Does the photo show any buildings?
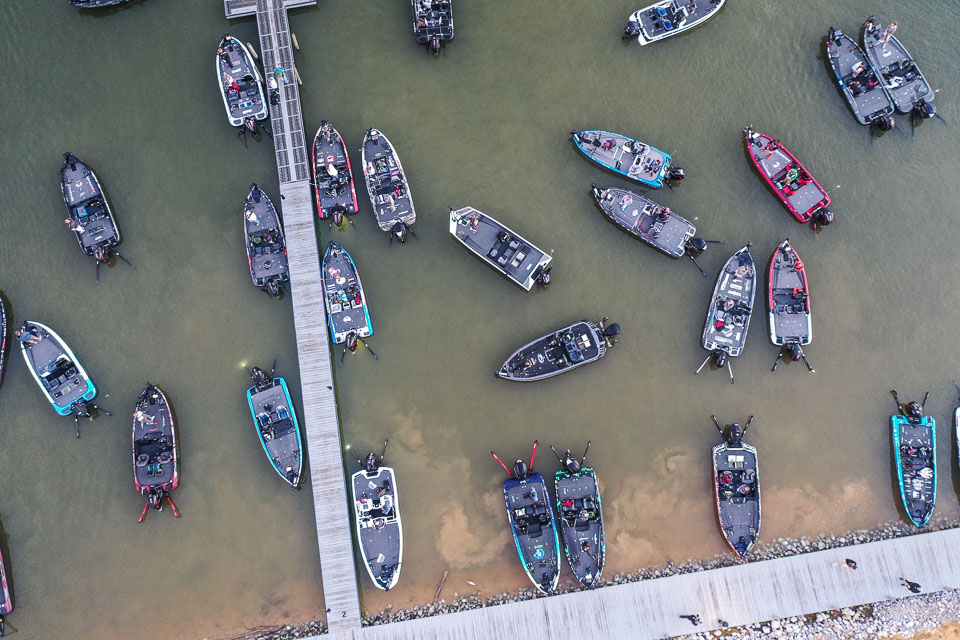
No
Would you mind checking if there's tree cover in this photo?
No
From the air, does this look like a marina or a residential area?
marina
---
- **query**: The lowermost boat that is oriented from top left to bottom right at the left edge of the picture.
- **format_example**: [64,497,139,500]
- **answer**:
[18,318,112,438]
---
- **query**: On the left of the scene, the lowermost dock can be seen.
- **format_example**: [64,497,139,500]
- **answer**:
[280,180,364,634]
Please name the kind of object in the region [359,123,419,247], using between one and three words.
boat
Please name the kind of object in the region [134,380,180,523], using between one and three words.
boat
